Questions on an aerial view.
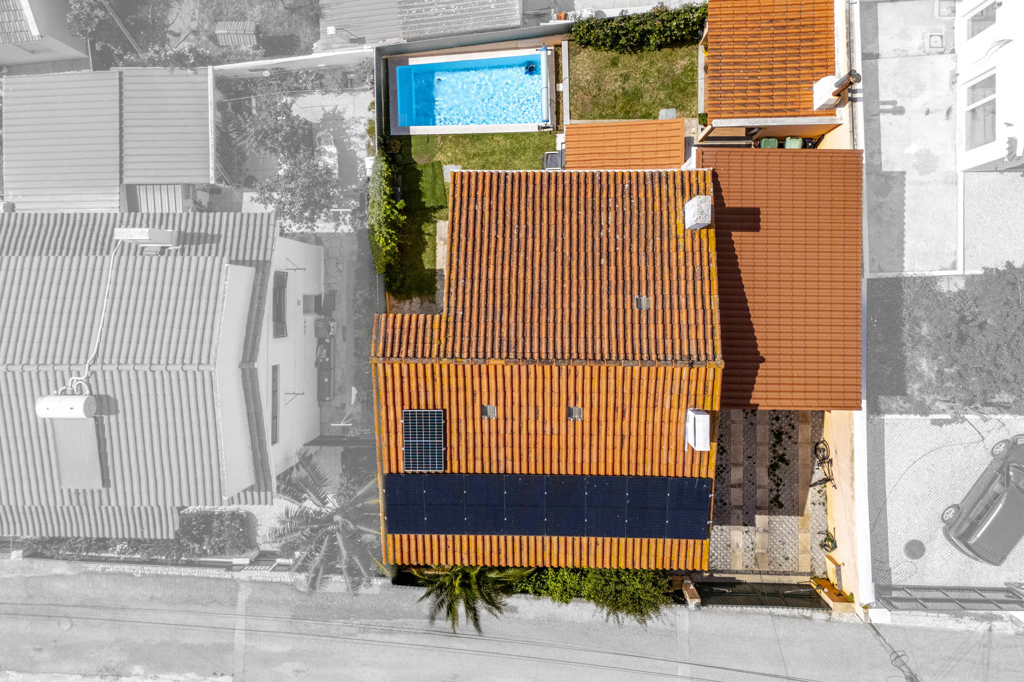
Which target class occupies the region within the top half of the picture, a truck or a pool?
pool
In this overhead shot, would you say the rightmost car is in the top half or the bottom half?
bottom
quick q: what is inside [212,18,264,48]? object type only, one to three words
building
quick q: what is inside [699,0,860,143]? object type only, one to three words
shed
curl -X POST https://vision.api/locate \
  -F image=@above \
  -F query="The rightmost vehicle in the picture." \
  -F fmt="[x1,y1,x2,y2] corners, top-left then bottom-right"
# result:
[945,438,1024,569]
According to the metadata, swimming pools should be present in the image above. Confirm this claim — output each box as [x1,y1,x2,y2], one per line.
[389,44,556,135]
